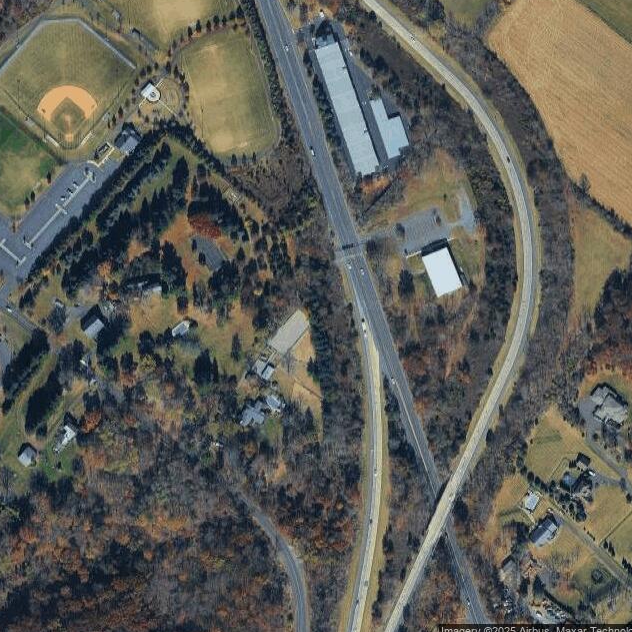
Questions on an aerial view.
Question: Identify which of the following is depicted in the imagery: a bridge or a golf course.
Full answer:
The image shows a bridge.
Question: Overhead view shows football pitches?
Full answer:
Yes, a football pitch can be made out from above.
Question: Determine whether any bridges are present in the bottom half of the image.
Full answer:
Yes, in the bottom half of the image there is a bridge.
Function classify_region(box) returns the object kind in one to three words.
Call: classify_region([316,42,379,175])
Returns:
building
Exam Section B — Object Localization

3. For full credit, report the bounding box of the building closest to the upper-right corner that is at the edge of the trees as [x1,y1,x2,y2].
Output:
[370,99,410,159]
